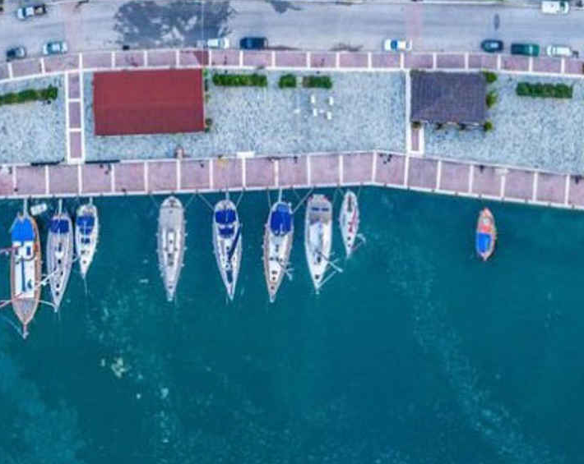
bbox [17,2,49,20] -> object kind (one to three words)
vehicle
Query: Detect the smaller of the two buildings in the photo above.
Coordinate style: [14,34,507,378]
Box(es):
[408,70,488,123]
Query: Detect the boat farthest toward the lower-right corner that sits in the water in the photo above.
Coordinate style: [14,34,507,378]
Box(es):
[474,207,497,261]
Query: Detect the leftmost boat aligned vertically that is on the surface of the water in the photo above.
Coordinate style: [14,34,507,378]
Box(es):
[0,197,42,342]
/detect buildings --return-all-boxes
[408,70,488,123]
[92,69,207,135]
